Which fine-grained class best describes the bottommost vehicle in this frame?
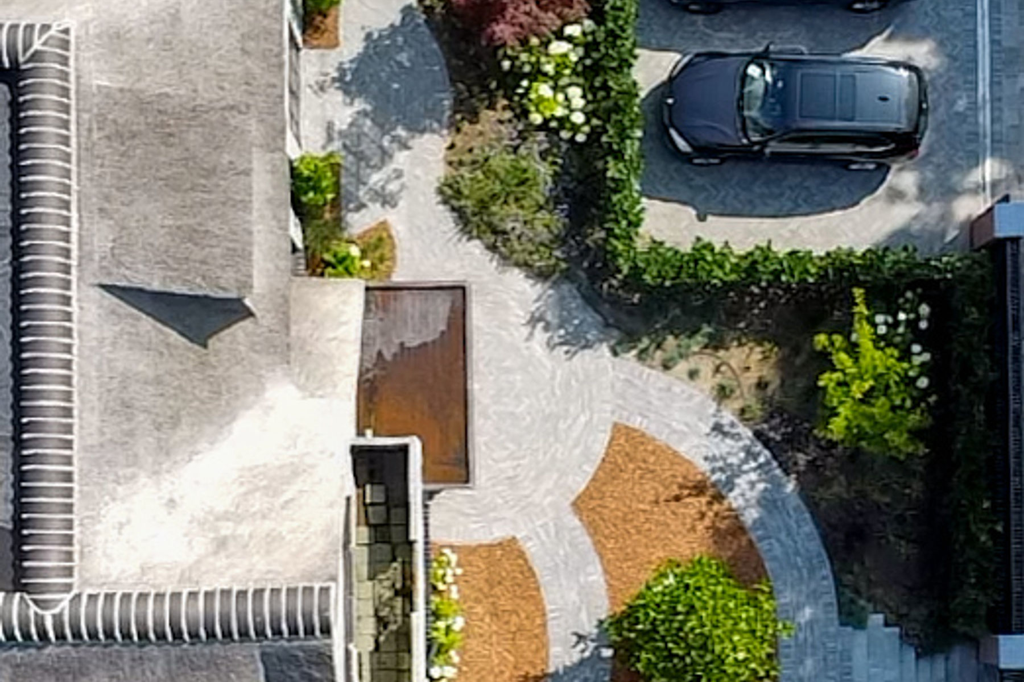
car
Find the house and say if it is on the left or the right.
left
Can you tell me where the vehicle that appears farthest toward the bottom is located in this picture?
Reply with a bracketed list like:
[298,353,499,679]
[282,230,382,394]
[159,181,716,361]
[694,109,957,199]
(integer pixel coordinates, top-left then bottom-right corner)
[662,40,927,169]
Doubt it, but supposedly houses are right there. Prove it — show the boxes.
[0,0,362,682]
